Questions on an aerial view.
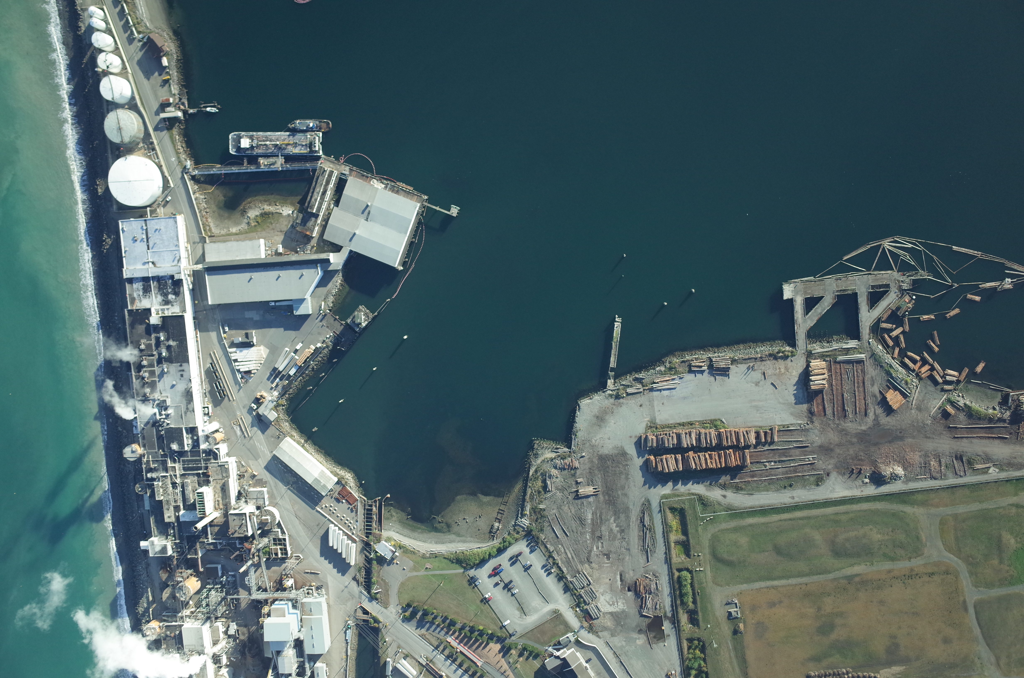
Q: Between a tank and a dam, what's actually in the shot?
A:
tank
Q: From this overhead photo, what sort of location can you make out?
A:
port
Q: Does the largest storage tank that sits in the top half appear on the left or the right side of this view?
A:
left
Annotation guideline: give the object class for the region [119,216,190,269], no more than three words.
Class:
building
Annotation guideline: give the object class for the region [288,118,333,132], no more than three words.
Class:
boat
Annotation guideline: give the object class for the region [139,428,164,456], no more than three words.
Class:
building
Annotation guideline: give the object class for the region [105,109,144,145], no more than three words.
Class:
storage tank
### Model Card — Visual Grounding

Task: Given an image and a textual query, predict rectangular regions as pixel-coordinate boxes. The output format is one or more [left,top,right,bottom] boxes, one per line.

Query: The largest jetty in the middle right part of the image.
[781,273,902,353]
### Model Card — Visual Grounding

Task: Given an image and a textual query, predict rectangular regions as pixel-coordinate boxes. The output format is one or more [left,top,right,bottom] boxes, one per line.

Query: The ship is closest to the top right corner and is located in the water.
[891,291,916,317]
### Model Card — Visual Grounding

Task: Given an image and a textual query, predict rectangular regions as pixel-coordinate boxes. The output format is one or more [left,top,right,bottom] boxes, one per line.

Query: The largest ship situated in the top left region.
[229,132,324,156]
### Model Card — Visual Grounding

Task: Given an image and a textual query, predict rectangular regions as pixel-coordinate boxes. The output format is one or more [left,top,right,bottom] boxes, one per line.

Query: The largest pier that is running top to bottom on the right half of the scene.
[607,316,622,387]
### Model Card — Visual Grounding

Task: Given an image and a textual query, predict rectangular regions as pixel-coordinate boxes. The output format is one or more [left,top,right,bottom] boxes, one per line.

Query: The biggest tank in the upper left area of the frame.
[110,157,162,206]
